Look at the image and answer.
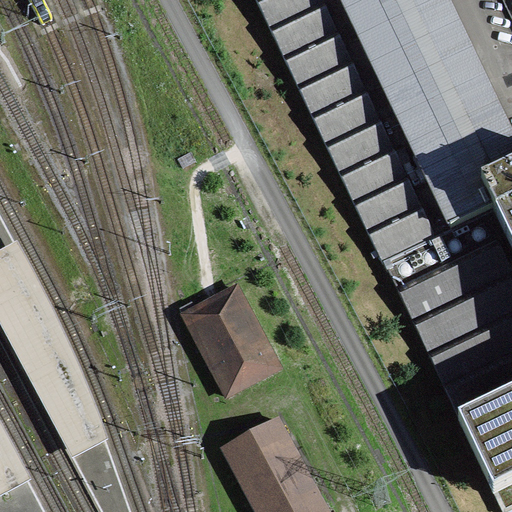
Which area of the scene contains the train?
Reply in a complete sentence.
The train sits in the top left section of the image.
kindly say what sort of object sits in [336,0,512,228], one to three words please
building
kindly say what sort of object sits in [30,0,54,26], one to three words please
train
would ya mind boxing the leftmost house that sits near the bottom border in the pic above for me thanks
[220,416,332,512]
